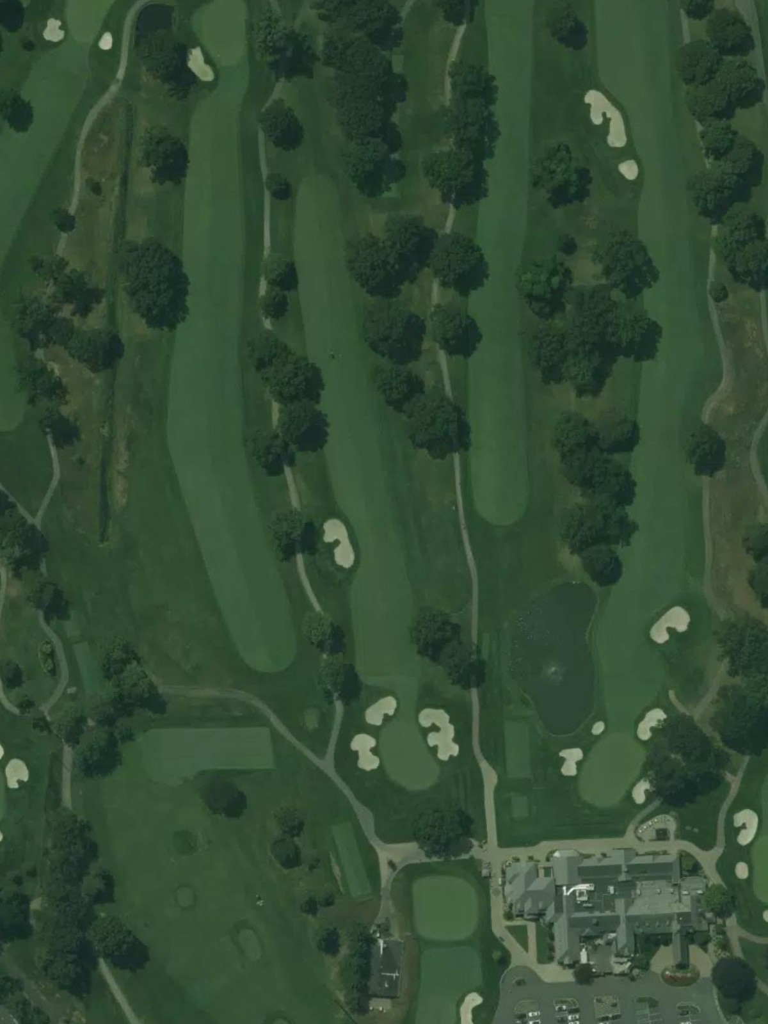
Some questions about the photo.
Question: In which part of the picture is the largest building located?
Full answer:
You can find the largest building in the bottom right area of the picture.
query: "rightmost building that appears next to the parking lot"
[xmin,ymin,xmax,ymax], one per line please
[506,849,716,973]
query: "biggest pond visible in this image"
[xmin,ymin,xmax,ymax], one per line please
[511,583,596,735]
